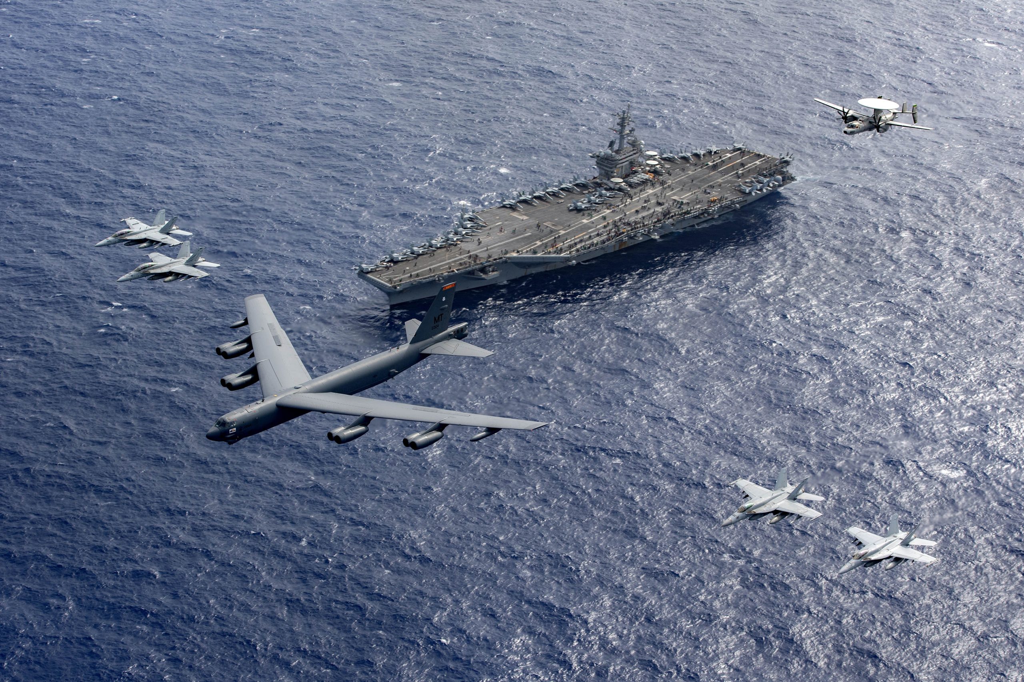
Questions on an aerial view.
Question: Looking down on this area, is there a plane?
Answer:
Yes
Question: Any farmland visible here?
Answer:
No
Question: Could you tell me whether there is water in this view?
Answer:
Yes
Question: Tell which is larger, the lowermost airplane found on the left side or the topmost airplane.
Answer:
the lowermost airplane found on the left side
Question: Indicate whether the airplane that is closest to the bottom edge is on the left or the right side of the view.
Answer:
right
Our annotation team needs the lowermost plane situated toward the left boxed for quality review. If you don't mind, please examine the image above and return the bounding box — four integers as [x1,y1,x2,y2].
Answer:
[205,281,548,451]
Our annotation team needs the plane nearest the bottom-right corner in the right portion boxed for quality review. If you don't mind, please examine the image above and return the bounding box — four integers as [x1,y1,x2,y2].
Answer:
[839,513,937,575]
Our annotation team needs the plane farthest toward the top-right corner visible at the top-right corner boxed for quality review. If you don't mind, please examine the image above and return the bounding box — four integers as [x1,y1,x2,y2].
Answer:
[809,93,932,137]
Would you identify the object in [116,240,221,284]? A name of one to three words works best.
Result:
airplane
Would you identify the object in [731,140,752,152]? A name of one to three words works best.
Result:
airplane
